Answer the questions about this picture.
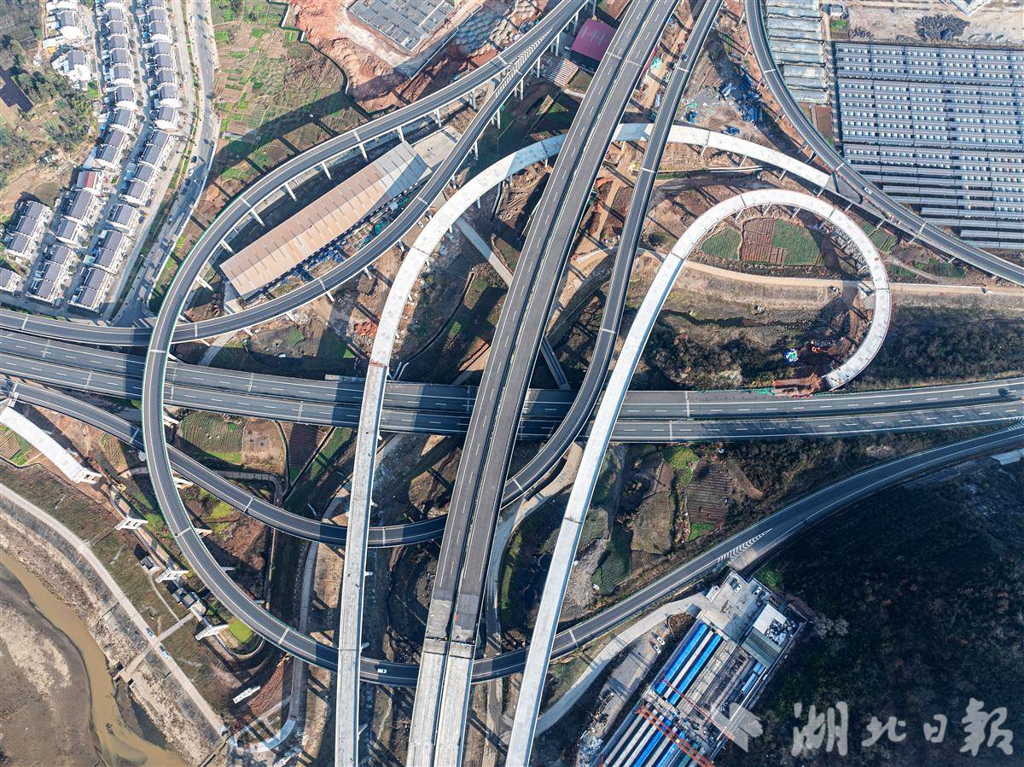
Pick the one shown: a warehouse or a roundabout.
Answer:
warehouse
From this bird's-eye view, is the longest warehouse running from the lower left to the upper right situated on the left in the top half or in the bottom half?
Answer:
top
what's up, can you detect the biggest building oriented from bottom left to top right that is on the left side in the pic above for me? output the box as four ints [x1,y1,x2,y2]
[220,141,434,299]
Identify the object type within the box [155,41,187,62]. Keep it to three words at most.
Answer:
house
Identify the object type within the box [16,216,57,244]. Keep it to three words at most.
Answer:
house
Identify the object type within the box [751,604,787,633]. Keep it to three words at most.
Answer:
shed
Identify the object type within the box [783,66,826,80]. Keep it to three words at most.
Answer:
greenhouse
